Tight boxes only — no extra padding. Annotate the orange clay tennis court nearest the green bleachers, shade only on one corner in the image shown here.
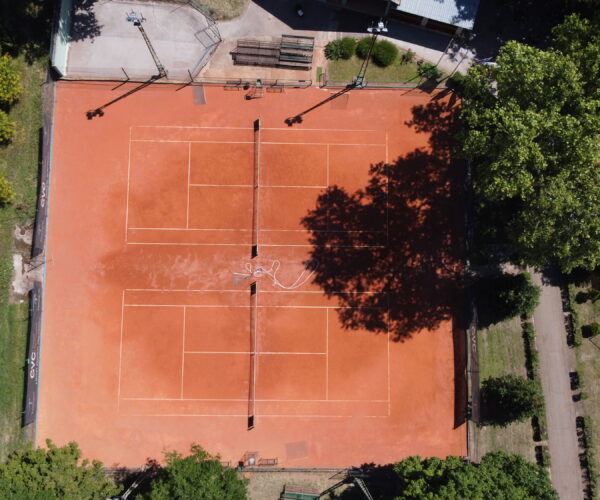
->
[118,290,390,417]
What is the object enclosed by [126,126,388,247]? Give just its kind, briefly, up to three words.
tennis court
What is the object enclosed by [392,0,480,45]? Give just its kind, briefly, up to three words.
building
